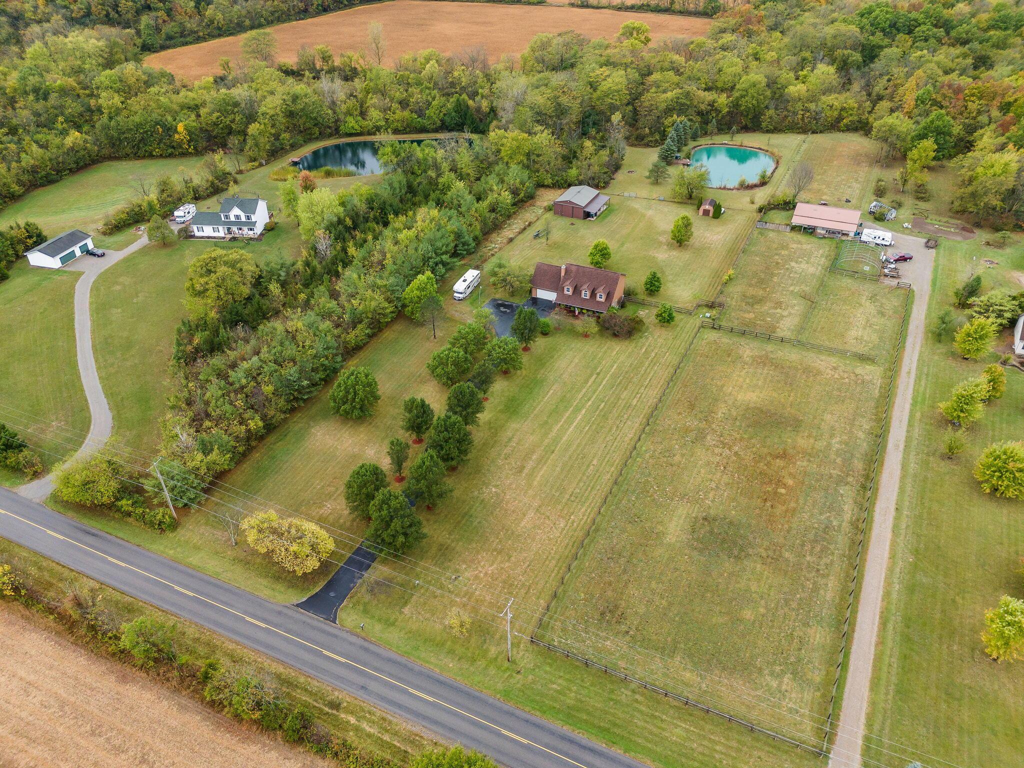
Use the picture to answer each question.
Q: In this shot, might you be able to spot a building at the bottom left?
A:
No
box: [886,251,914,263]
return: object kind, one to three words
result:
vehicle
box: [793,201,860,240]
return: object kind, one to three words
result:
building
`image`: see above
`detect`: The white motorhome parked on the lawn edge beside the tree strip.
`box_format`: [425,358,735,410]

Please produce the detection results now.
[453,267,481,299]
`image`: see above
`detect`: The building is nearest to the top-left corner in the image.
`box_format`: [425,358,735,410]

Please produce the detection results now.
[27,228,95,269]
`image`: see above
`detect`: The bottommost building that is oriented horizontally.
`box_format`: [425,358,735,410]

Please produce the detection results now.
[534,263,636,322]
